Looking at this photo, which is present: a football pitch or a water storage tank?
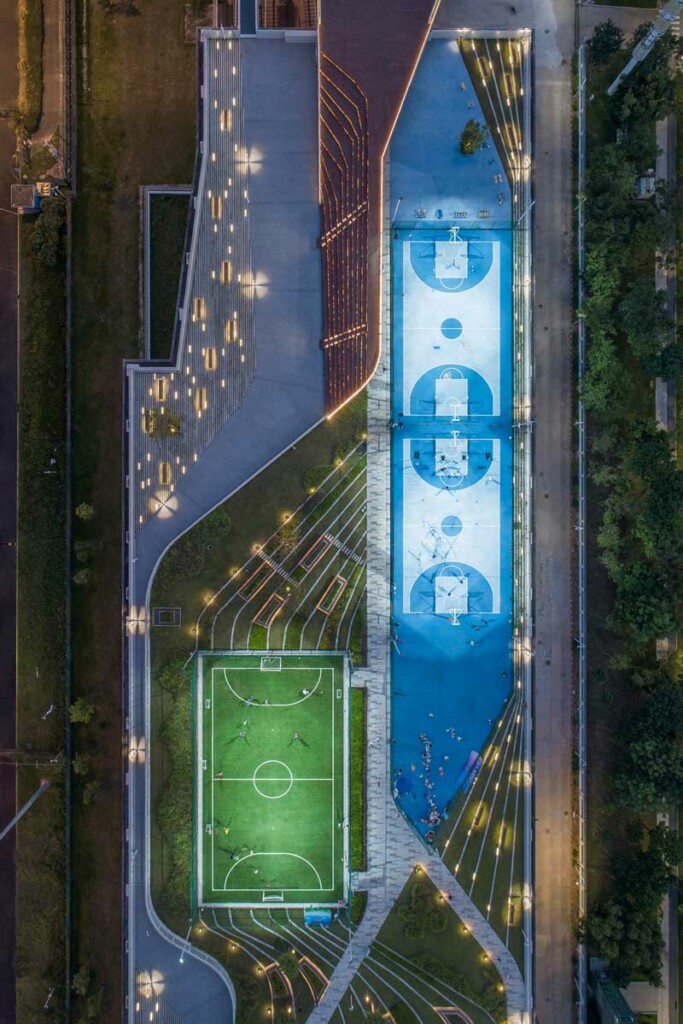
football pitch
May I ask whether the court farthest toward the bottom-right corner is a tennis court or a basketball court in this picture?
basketball court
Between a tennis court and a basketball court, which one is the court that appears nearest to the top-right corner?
basketball court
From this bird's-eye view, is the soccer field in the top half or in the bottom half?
bottom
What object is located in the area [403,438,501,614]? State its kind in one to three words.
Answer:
basketball court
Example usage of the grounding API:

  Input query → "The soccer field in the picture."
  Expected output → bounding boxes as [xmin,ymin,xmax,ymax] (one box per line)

[196,650,351,909]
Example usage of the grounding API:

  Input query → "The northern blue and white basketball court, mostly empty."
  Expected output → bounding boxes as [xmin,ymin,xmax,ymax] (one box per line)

[401,241,502,416]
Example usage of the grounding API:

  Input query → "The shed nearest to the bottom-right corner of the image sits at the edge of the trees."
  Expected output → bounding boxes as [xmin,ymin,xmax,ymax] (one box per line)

[586,949,640,1024]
